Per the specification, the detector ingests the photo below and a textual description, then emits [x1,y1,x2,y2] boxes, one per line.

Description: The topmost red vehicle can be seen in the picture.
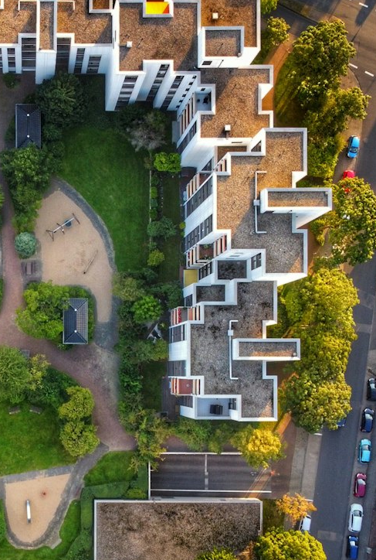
[341,164,356,189]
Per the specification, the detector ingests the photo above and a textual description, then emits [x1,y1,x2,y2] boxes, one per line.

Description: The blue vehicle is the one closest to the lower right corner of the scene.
[344,535,359,559]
